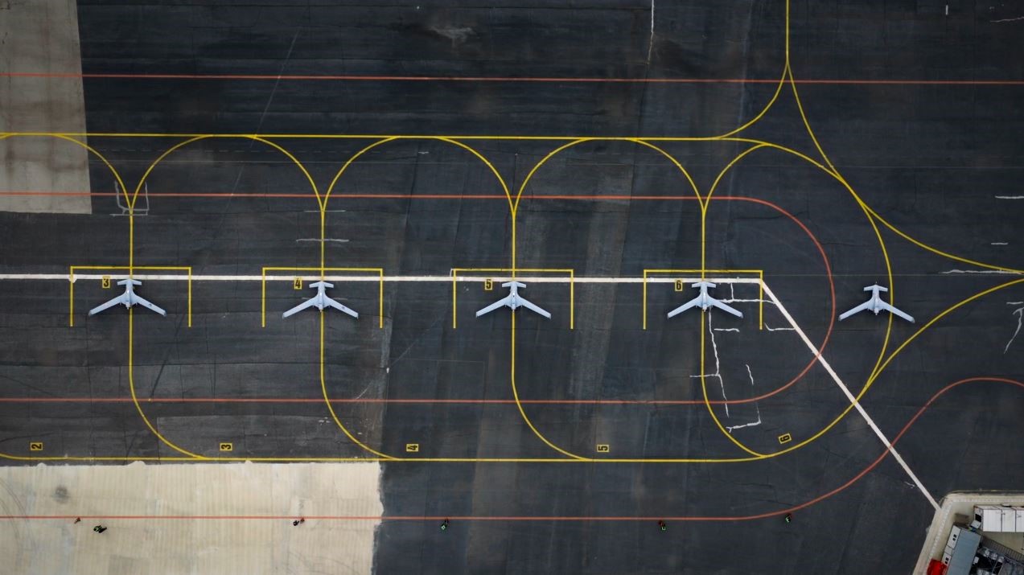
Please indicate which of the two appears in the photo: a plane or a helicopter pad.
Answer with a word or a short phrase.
plane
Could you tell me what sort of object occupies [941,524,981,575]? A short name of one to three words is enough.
building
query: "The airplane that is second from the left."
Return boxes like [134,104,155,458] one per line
[282,282,357,318]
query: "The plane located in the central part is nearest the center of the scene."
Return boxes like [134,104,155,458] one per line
[476,282,552,319]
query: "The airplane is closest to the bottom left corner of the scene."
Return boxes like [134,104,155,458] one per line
[89,278,165,316]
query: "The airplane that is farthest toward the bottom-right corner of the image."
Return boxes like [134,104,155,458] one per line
[839,285,916,322]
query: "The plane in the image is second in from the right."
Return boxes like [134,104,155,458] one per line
[668,282,744,318]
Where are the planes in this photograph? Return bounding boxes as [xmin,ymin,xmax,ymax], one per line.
[476,282,552,319]
[668,282,744,318]
[89,278,165,316]
[839,285,916,322]
[282,282,357,318]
